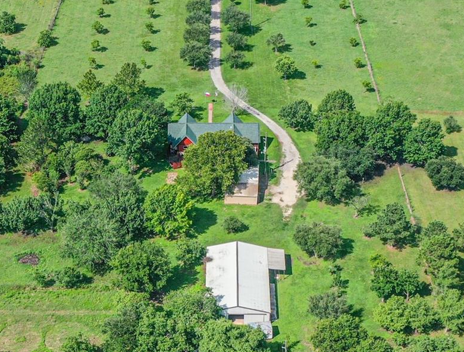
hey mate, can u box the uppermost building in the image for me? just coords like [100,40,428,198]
[168,112,258,171]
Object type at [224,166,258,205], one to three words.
shed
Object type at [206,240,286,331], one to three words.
barn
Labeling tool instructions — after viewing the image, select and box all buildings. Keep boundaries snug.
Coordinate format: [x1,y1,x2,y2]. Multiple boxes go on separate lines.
[206,240,286,331]
[168,112,258,171]
[224,166,258,205]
